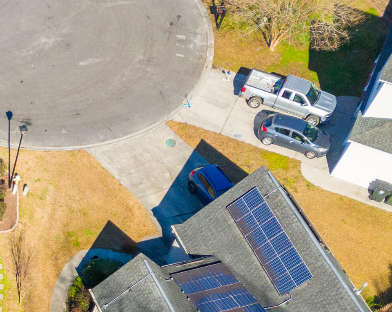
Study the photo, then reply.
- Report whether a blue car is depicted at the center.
Yes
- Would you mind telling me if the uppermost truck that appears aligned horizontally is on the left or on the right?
right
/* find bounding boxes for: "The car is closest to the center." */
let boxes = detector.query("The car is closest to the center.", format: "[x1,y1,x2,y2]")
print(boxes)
[186,157,239,202]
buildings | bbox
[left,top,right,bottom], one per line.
[88,163,374,312]
[330,54,392,188]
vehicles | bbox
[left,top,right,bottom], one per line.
[186,157,239,202]
[257,106,337,159]
[235,62,348,124]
